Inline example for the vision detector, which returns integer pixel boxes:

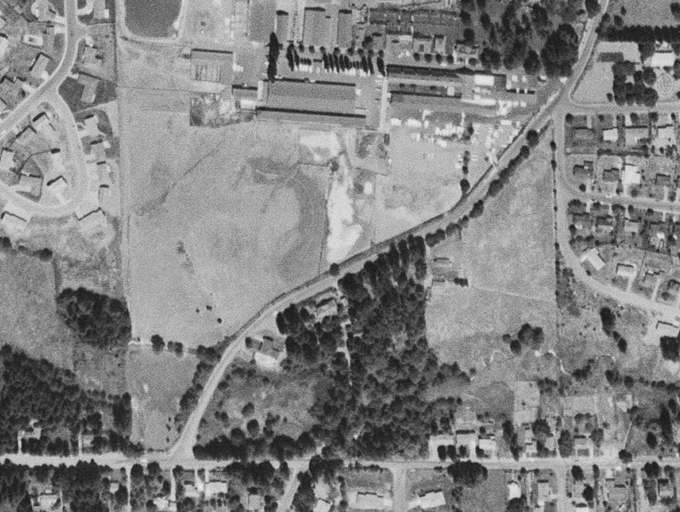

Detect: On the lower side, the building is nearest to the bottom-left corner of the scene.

[39,494,61,511]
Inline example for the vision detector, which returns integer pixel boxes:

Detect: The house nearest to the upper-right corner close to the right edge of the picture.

[653,50,676,66]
